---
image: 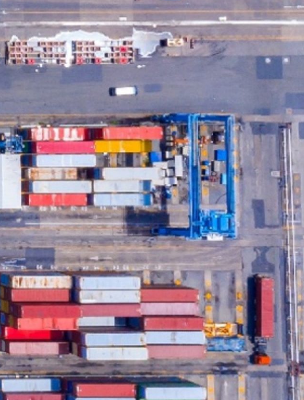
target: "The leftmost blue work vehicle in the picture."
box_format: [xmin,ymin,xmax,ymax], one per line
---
[0,134,28,151]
